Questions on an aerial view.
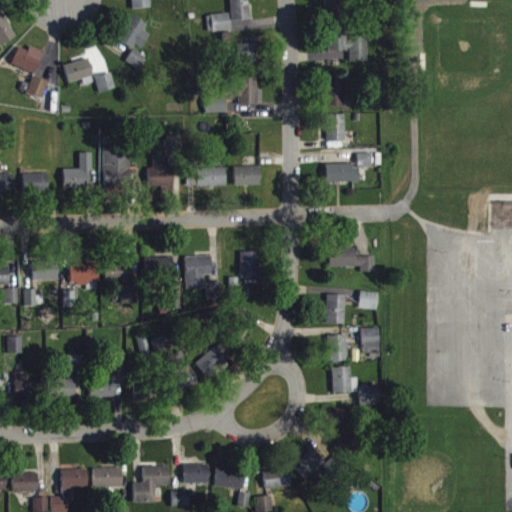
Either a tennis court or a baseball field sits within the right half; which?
baseball field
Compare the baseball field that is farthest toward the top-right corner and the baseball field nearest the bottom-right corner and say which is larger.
the baseball field that is farthest toward the top-right corner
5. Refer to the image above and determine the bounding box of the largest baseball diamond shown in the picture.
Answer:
[430,14,505,86]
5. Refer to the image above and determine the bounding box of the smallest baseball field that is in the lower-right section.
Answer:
[405,450,458,510]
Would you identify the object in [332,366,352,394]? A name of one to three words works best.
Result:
house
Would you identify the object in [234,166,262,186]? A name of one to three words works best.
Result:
house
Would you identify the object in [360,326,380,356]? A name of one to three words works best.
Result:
building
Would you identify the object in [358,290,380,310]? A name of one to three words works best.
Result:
building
